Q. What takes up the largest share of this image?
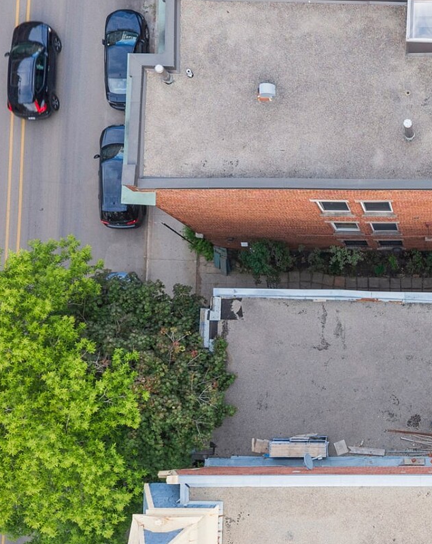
buildings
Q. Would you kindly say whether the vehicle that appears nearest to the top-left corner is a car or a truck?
car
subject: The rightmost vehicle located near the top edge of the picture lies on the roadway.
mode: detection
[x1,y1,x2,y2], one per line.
[102,10,151,106]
